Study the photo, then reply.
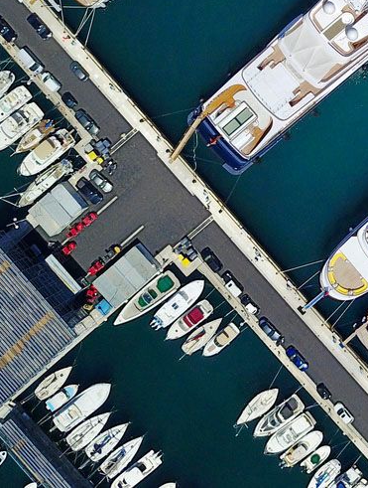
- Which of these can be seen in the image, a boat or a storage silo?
boat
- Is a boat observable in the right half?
Yes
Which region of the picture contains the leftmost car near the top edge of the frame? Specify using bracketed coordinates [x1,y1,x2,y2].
[0,15,17,40]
